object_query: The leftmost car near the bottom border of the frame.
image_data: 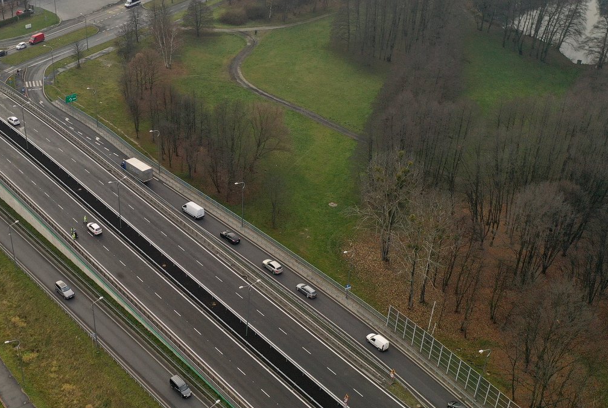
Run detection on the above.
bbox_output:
[167,374,192,397]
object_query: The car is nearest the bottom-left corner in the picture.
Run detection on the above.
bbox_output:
[54,279,74,298]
